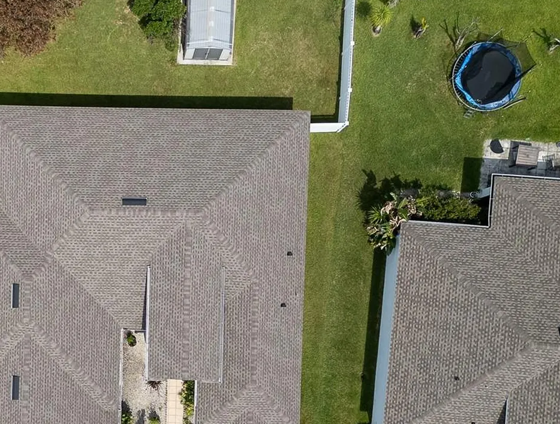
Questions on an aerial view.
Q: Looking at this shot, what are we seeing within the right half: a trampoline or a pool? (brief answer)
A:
trampoline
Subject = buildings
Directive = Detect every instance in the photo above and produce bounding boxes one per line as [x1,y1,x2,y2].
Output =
[380,172,560,424]
[187,0,234,55]
[0,106,309,424]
